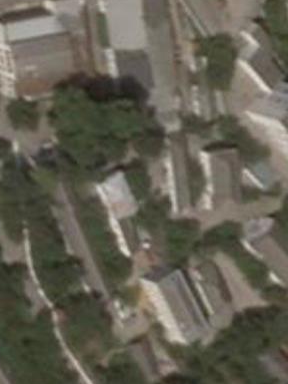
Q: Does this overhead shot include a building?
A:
Yes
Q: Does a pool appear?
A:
No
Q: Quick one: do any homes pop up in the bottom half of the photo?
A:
Yes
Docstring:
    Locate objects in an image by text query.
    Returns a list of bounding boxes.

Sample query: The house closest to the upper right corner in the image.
[244,19,274,47]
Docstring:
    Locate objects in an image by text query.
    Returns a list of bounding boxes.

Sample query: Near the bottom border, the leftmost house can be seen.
[129,331,175,384]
